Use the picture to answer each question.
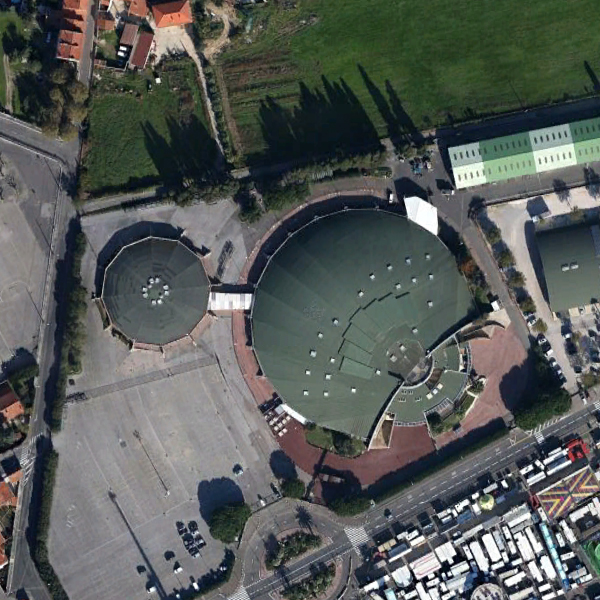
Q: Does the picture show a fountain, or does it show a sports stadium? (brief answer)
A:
sports stadium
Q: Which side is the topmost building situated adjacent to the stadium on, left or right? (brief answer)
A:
right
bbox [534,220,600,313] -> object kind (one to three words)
building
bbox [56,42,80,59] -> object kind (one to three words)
house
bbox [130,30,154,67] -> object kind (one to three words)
barn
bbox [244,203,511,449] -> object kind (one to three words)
stadium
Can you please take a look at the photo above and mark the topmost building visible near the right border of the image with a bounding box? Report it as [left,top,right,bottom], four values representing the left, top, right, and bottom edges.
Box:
[448,117,600,189]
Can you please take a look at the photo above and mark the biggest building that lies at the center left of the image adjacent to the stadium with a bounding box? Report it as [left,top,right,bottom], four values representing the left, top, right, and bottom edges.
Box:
[94,229,218,352]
